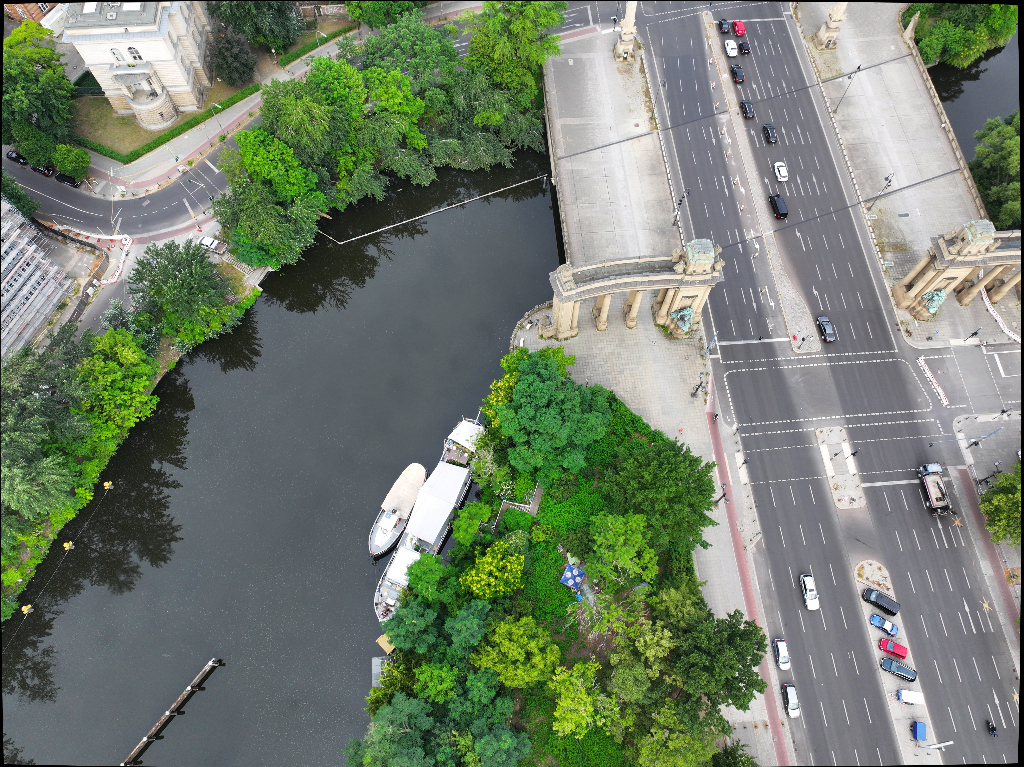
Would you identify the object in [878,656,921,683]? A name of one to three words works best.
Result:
vehicle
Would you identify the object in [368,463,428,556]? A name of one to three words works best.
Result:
boat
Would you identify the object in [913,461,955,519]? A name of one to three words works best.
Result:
truck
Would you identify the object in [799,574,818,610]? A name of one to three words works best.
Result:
car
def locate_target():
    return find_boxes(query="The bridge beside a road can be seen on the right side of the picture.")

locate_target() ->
[543,5,982,268]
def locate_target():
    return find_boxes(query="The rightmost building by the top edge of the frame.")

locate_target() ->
[65,0,217,131]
